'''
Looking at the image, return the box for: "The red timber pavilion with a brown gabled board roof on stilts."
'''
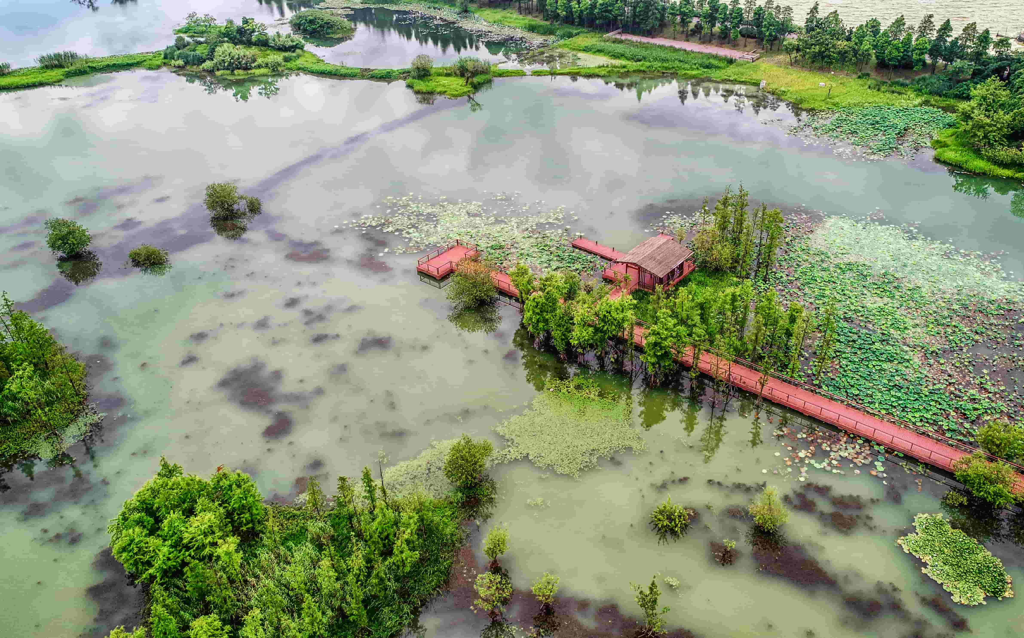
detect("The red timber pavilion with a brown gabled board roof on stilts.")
[602,236,698,293]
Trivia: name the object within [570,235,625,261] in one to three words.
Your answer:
pier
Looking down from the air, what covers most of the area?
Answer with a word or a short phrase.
water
